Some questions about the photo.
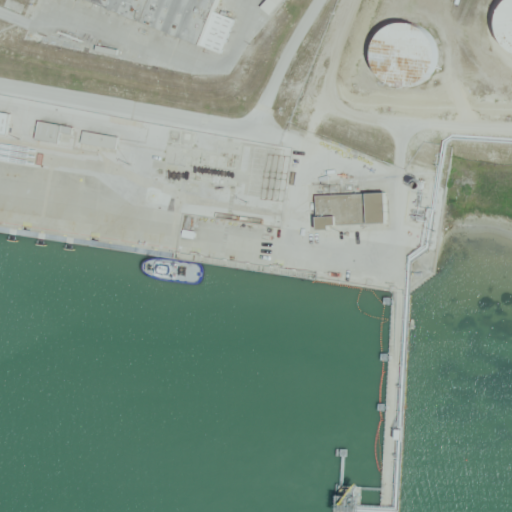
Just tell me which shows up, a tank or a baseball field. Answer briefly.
tank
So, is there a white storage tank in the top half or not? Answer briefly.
Yes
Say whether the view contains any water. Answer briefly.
Yes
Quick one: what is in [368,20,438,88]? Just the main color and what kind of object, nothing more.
white storage tank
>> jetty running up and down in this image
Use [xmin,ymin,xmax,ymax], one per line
[380,291,412,512]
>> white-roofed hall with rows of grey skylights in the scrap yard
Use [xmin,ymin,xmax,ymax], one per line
[196,0,237,54]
